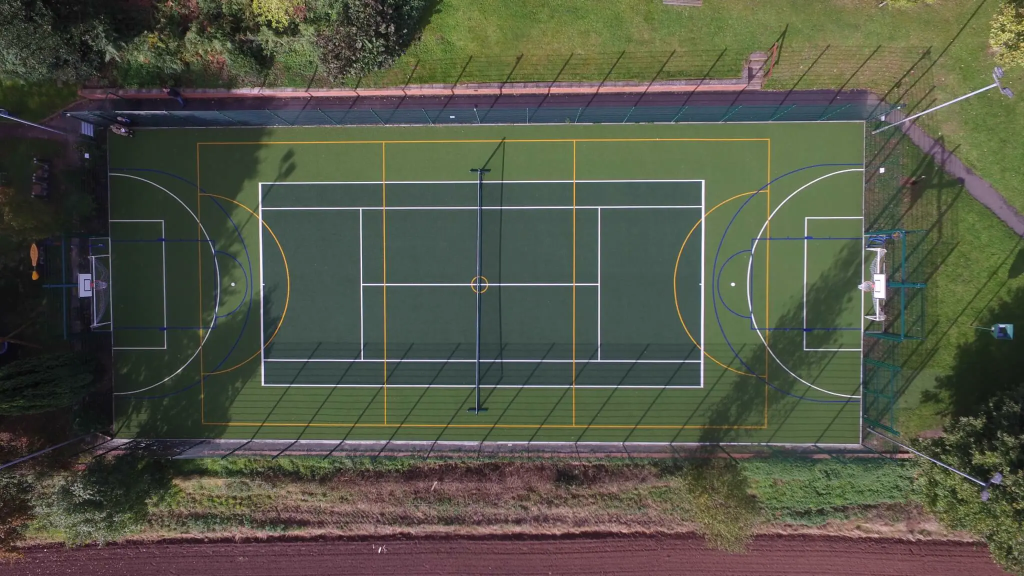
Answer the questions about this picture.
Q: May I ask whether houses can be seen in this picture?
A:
No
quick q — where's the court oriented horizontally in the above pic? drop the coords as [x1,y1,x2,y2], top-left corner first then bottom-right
[259,179,705,388]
